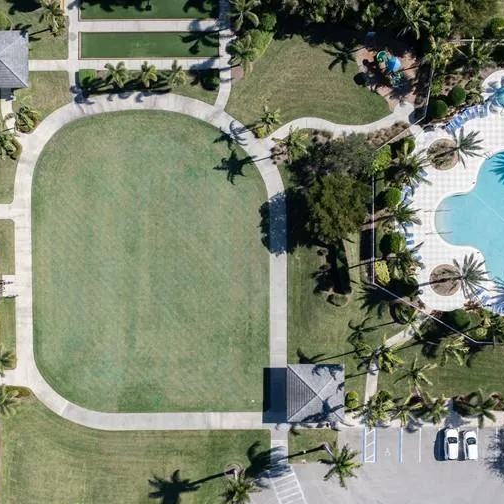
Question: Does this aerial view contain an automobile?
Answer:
Yes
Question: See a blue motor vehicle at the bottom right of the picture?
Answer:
No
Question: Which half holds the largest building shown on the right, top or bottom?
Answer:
bottom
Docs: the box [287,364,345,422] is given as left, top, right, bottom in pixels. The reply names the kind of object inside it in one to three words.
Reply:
building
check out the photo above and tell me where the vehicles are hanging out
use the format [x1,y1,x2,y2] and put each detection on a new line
[463,429,479,460]
[443,427,459,459]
